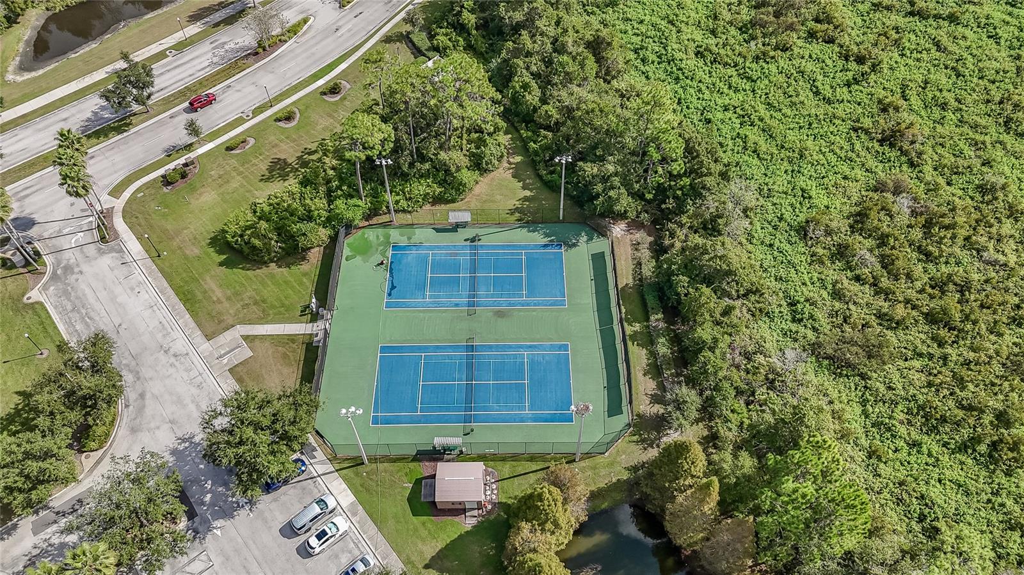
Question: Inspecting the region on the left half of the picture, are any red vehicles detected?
Yes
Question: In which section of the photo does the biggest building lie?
bottom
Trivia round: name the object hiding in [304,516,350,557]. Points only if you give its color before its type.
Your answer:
white car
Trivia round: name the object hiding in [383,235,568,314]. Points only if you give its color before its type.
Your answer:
blue tennis court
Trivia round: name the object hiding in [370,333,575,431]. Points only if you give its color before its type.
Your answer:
blue tennis court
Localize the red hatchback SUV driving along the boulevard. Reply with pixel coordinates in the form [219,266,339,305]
[187,93,218,112]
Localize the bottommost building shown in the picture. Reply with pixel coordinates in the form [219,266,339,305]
[426,462,485,529]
